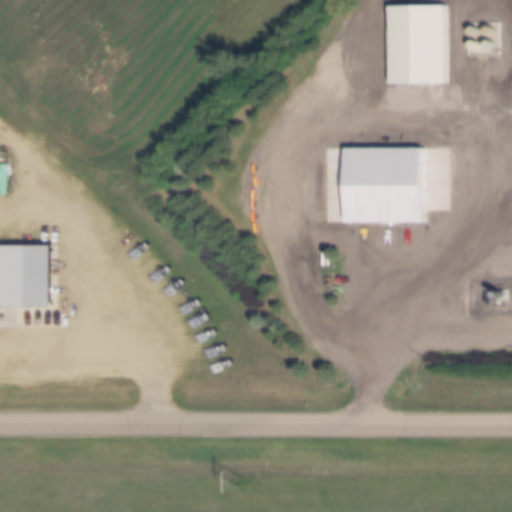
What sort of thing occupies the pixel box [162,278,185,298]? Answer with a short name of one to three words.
vehicle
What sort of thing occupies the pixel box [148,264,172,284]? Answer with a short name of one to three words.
vehicle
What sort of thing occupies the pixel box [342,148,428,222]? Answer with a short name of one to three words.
building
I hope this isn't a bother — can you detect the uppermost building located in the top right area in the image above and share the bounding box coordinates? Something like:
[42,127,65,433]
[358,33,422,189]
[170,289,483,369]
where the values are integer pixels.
[388,4,448,82]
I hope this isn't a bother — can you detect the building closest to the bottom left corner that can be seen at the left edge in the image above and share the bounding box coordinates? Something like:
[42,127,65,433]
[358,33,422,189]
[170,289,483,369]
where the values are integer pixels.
[0,245,52,306]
